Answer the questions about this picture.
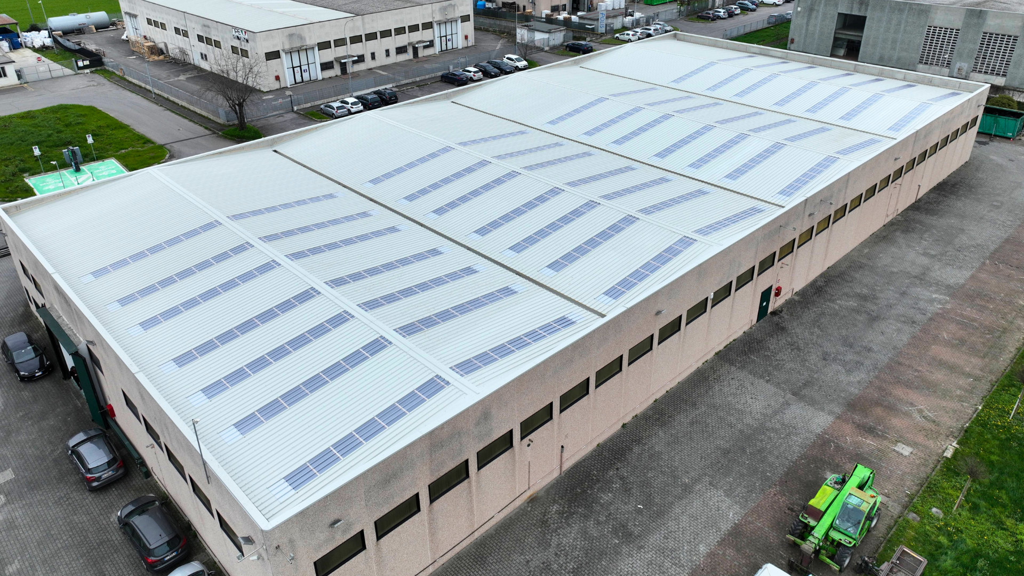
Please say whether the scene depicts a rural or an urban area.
urban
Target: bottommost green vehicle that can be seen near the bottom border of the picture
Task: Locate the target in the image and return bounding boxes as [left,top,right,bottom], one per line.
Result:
[776,457,889,576]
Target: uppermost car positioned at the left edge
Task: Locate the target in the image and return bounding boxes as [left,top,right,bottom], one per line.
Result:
[0,322,54,376]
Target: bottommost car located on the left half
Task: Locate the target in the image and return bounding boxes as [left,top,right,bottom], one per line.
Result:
[162,549,227,576]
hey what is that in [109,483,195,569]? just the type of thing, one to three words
car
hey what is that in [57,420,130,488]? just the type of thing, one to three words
car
